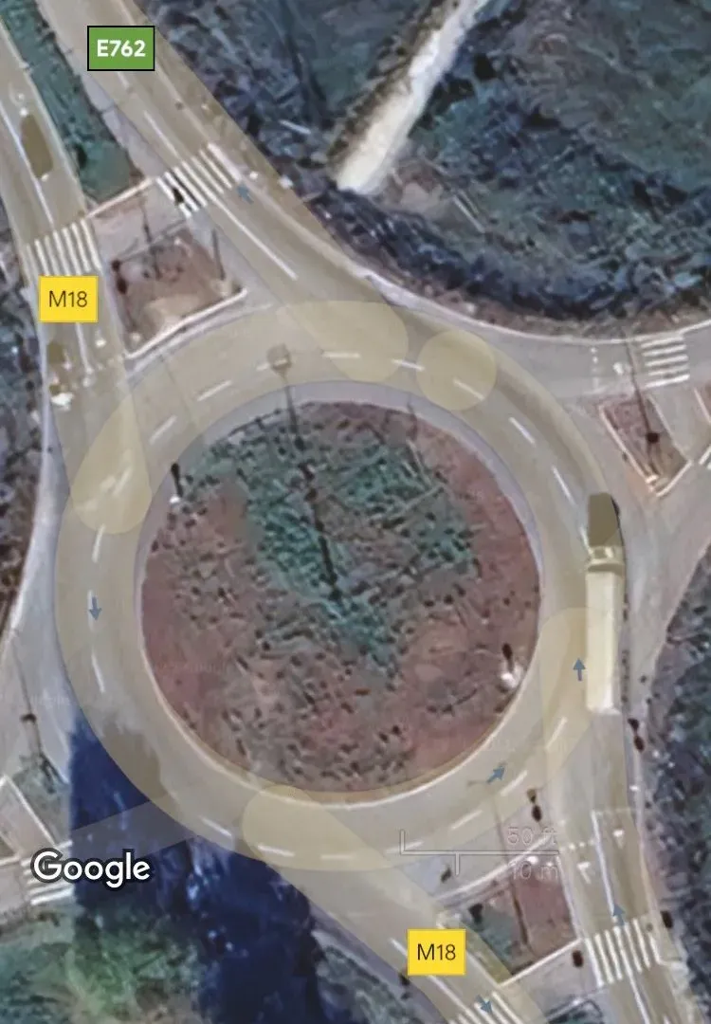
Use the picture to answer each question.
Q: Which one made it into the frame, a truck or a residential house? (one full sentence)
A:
Looking from above, you can make out a truck.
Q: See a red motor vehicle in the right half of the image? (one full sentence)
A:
No, there is no red motor vehicle in the right half of the image.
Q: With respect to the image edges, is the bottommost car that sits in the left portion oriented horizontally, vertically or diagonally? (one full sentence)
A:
The bottommost car that sits in the left portion is laid out vertically.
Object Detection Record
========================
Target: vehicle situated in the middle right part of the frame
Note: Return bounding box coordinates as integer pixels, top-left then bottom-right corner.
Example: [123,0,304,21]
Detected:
[588,527,621,712]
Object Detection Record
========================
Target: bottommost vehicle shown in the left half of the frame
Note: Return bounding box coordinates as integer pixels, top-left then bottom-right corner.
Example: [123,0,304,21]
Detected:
[51,365,74,409]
